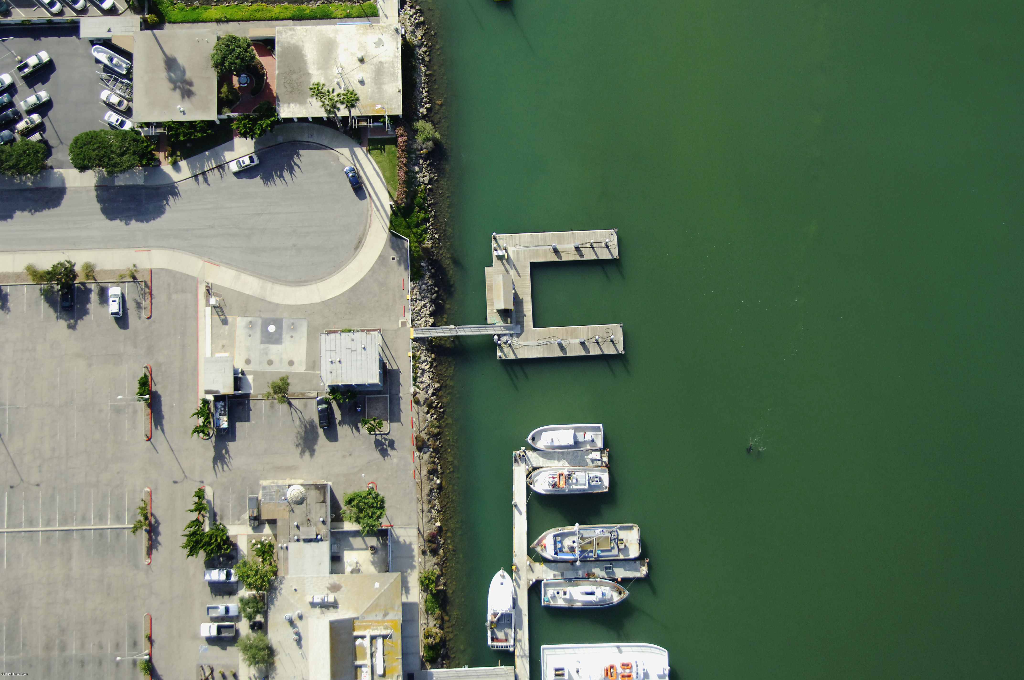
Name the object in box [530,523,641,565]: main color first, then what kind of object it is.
white boat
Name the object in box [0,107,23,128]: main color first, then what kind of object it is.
black car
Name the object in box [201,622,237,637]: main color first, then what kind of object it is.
white vehicle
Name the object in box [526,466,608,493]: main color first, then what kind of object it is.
white boat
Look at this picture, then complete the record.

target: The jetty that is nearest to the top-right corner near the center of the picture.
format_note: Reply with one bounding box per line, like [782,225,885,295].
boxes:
[485,229,624,360]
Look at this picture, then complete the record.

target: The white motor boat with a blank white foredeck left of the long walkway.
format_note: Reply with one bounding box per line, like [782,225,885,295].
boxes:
[486,567,516,651]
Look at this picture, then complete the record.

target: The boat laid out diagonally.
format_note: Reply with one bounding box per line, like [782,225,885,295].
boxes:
[93,45,132,74]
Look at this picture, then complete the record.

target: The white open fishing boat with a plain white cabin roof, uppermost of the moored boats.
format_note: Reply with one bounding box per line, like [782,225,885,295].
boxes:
[525,424,603,450]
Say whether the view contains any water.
Yes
